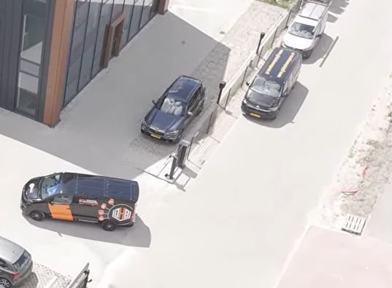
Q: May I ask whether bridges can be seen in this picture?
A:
No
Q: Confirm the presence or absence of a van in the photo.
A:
Yes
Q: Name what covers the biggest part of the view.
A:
paved ground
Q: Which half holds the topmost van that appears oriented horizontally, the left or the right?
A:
left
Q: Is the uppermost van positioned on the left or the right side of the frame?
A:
right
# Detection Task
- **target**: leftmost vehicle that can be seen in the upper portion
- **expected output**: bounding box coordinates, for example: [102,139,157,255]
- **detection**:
[139,76,206,147]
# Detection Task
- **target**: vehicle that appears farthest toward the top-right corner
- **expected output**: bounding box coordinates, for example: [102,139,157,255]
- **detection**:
[280,0,334,56]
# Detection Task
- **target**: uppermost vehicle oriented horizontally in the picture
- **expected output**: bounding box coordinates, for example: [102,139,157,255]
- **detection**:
[17,166,141,229]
